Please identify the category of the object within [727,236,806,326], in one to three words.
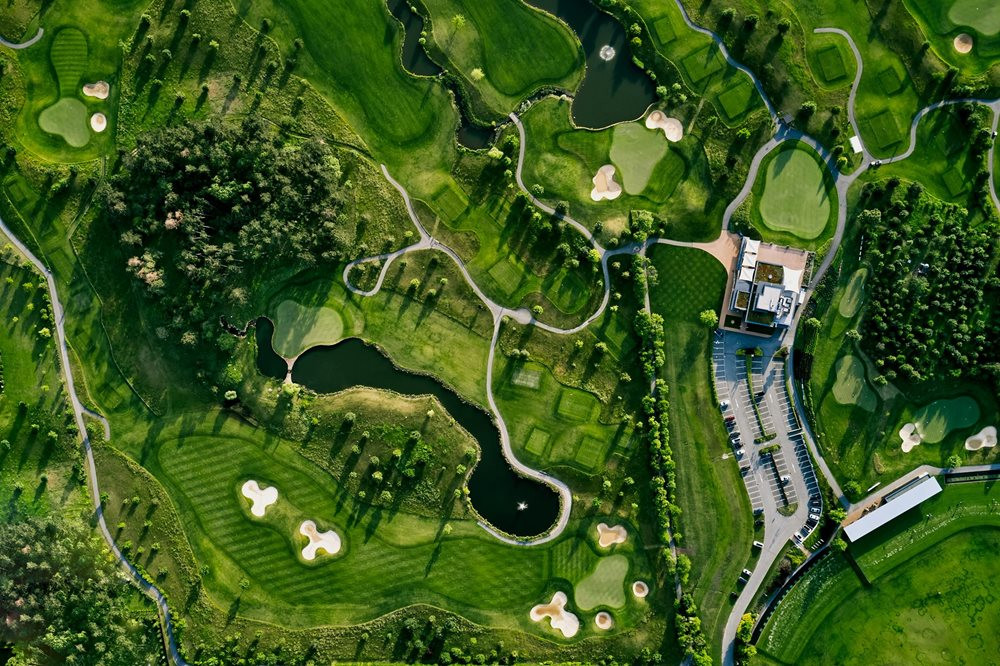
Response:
building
